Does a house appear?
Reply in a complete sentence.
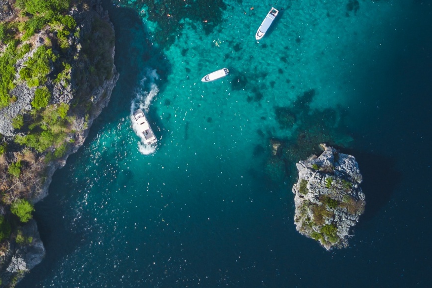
No, the frame has no house in it.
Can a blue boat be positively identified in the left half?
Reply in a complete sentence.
No, there's no blue boat to be seen in the left half.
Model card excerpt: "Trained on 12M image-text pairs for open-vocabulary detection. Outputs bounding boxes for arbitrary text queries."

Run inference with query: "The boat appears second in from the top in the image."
[201,68,230,82]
